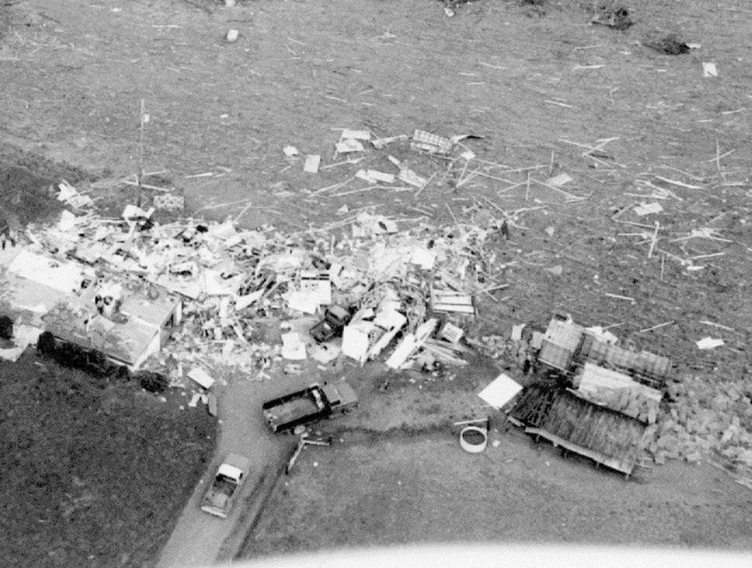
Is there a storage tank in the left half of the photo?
No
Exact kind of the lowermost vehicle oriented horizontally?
truck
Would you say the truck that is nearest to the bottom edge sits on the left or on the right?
left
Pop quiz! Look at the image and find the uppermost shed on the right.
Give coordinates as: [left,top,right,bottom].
[537,311,586,369]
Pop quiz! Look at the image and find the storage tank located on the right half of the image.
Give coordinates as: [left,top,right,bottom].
[459,426,489,455]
